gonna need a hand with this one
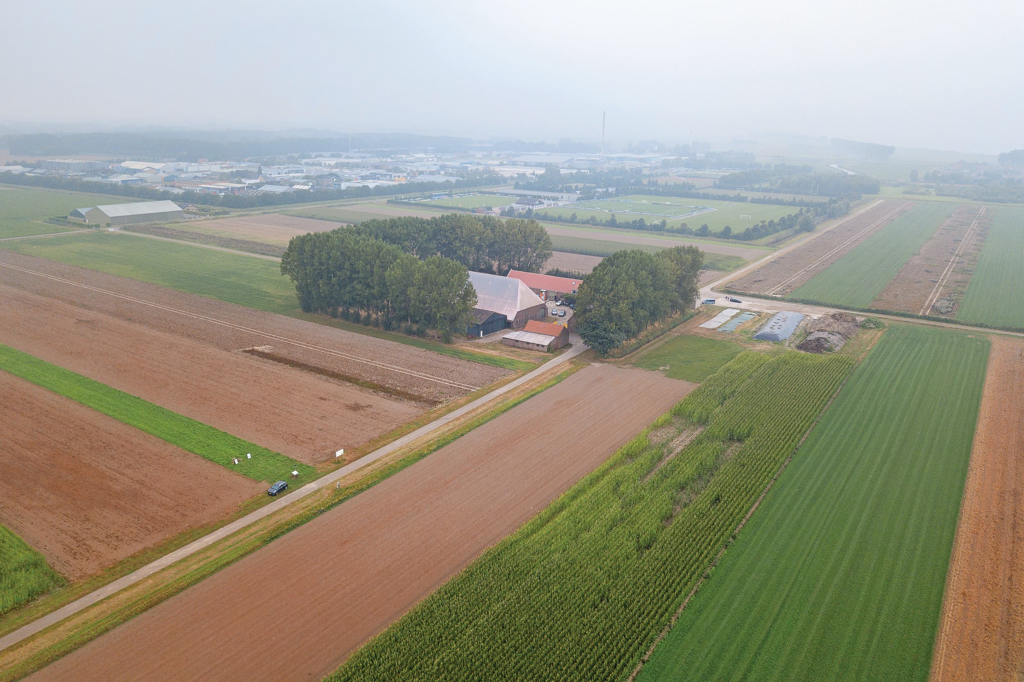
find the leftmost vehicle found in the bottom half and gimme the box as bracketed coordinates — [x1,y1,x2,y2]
[267,480,290,495]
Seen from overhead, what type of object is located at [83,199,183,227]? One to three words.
barn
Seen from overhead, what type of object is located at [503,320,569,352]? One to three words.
shed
